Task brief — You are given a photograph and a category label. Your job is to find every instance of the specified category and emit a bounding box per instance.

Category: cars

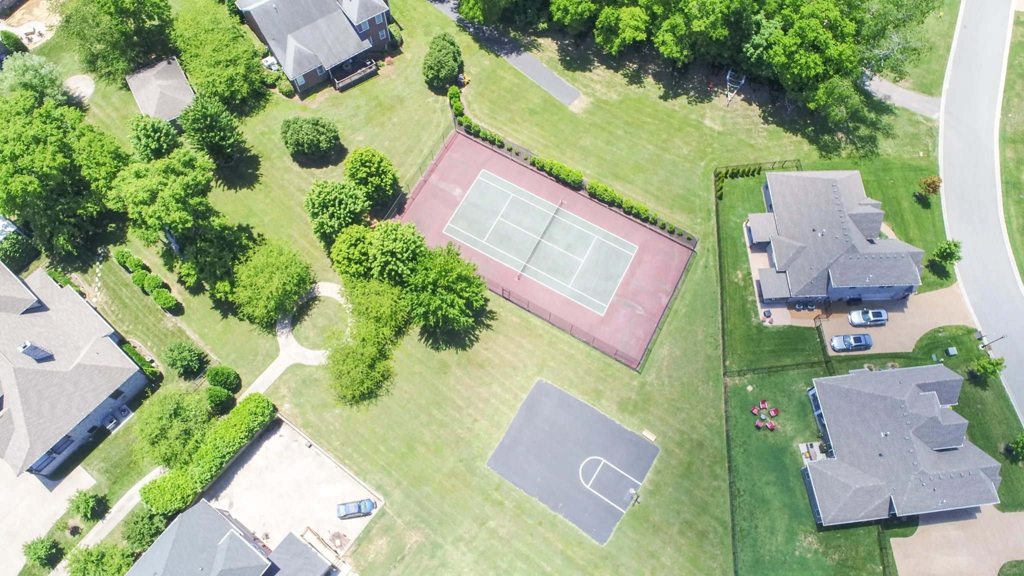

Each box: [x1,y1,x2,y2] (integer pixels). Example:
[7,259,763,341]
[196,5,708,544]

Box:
[847,308,889,327]
[336,497,378,519]
[830,333,873,351]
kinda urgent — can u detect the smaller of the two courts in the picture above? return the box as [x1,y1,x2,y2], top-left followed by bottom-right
[489,381,659,544]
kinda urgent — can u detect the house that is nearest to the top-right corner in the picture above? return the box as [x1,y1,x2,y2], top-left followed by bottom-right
[743,170,925,304]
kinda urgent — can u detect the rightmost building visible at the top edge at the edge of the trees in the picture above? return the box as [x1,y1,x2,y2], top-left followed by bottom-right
[234,0,393,94]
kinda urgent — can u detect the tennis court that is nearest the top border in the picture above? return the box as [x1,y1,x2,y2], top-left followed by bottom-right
[381,129,695,372]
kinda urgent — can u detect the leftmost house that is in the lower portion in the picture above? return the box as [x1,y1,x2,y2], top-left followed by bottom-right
[0,259,147,478]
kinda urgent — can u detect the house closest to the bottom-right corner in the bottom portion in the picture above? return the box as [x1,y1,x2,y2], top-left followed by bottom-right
[802,363,1002,527]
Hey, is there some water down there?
No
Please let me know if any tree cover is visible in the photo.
Yes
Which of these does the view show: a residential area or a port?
residential area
